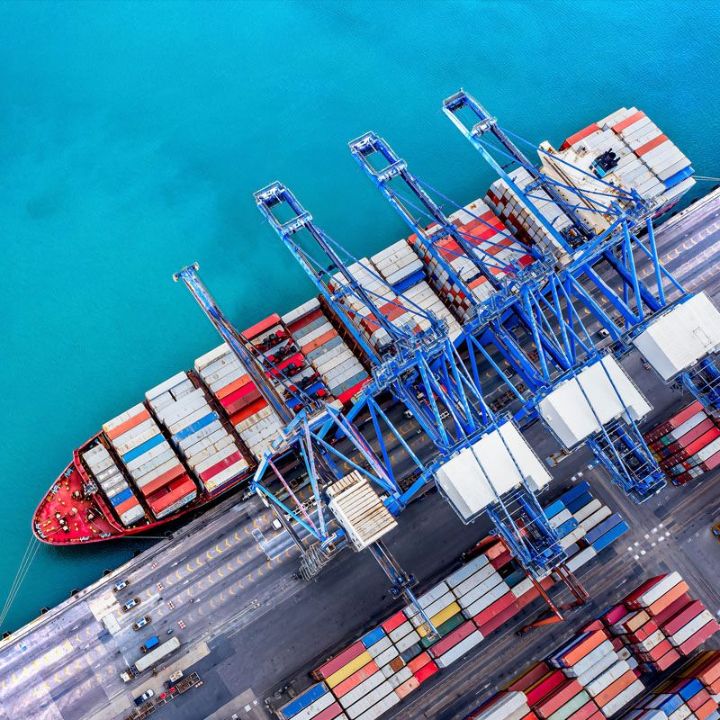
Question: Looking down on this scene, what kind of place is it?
port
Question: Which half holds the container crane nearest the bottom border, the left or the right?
right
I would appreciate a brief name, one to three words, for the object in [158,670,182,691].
truck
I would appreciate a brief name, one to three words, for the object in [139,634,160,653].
vehicle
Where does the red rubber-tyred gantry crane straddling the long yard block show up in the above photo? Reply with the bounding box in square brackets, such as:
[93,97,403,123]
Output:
[447,505,597,640]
